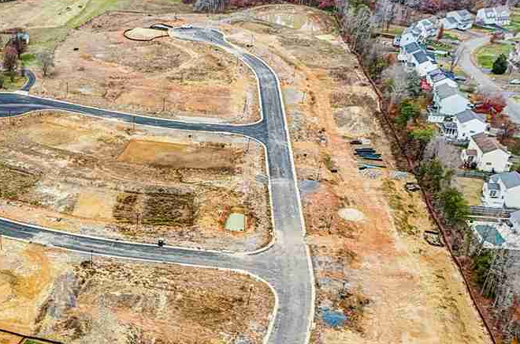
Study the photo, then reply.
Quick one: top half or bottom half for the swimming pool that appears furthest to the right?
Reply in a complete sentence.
You can find the swimming pool that appears furthest to the right in the bottom half.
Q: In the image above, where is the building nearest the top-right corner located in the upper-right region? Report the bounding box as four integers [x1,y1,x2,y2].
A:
[476,7,516,28]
